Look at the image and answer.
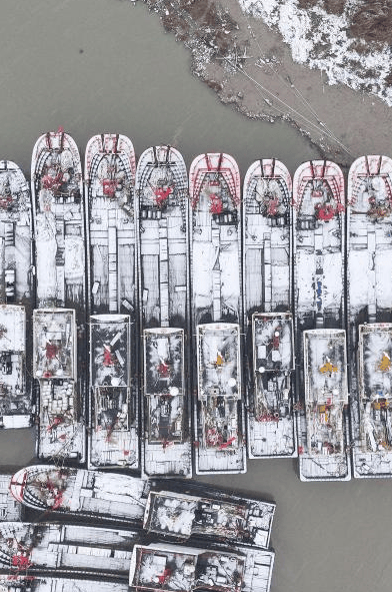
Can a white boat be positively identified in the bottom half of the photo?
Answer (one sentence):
Yes, a white boat can be seen in the bottom half of the photo.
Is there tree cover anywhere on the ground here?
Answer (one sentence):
No, there is no tree cover in the image.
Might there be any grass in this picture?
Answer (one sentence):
No, there is no grass in the image.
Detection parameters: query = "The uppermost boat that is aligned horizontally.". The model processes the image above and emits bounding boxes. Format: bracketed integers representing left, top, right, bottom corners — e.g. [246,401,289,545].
[7,465,276,547]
